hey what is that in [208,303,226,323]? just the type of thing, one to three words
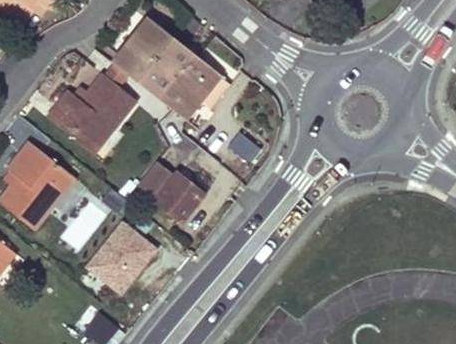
car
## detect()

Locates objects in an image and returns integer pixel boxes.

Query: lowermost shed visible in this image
[84,311,120,344]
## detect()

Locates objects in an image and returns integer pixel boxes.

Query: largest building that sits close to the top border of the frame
[111,15,222,121]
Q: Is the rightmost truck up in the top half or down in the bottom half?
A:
top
